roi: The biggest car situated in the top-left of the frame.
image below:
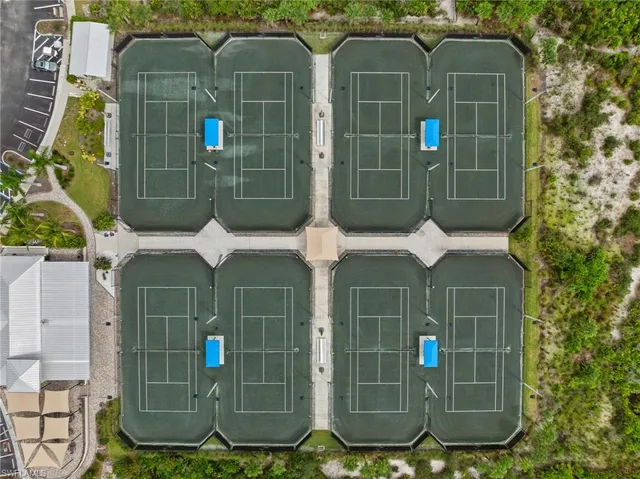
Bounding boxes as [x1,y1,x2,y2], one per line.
[28,58,56,71]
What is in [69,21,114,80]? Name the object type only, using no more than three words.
building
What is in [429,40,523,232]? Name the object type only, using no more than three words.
tennis court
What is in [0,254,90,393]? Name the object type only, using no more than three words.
building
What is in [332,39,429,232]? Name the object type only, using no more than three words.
tennis court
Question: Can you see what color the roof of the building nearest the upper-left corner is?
white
